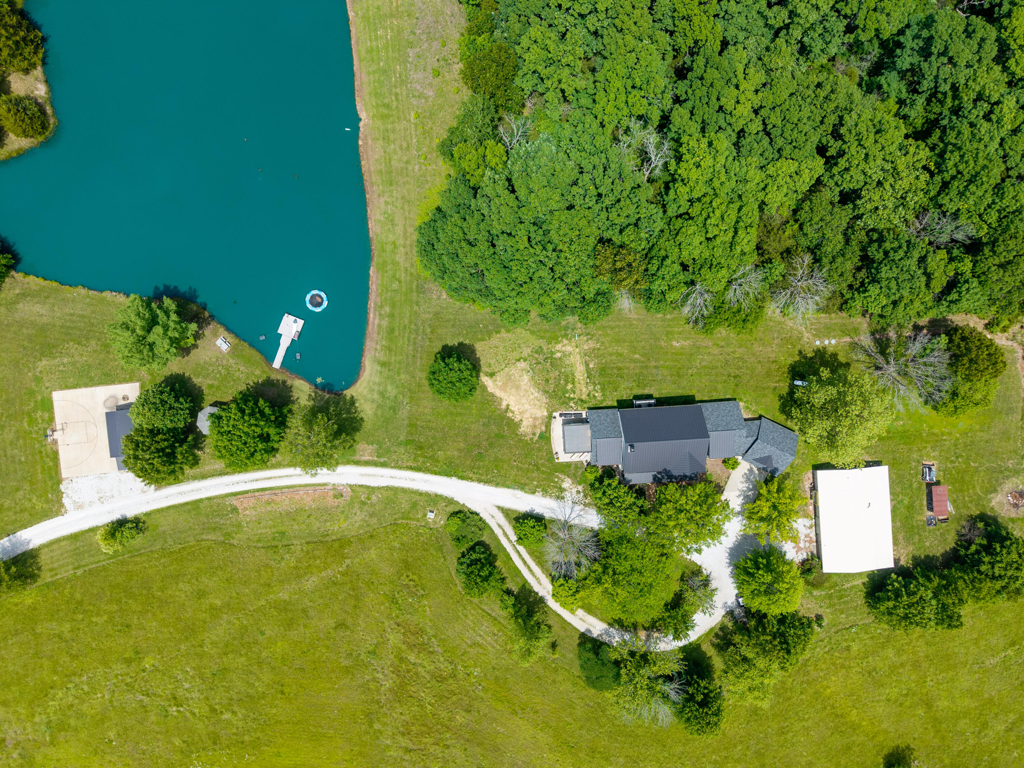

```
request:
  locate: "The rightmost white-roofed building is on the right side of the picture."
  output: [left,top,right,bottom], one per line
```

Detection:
[811,466,894,573]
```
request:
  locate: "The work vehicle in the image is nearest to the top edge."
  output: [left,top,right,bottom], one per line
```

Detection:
[920,461,937,484]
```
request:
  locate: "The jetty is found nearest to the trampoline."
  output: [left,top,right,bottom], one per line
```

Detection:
[272,313,305,369]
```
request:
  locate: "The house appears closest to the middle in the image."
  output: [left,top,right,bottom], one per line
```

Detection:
[588,399,798,483]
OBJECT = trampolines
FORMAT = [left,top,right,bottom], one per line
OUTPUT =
[306,290,328,312]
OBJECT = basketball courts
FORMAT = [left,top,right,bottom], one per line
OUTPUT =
[52,383,148,478]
